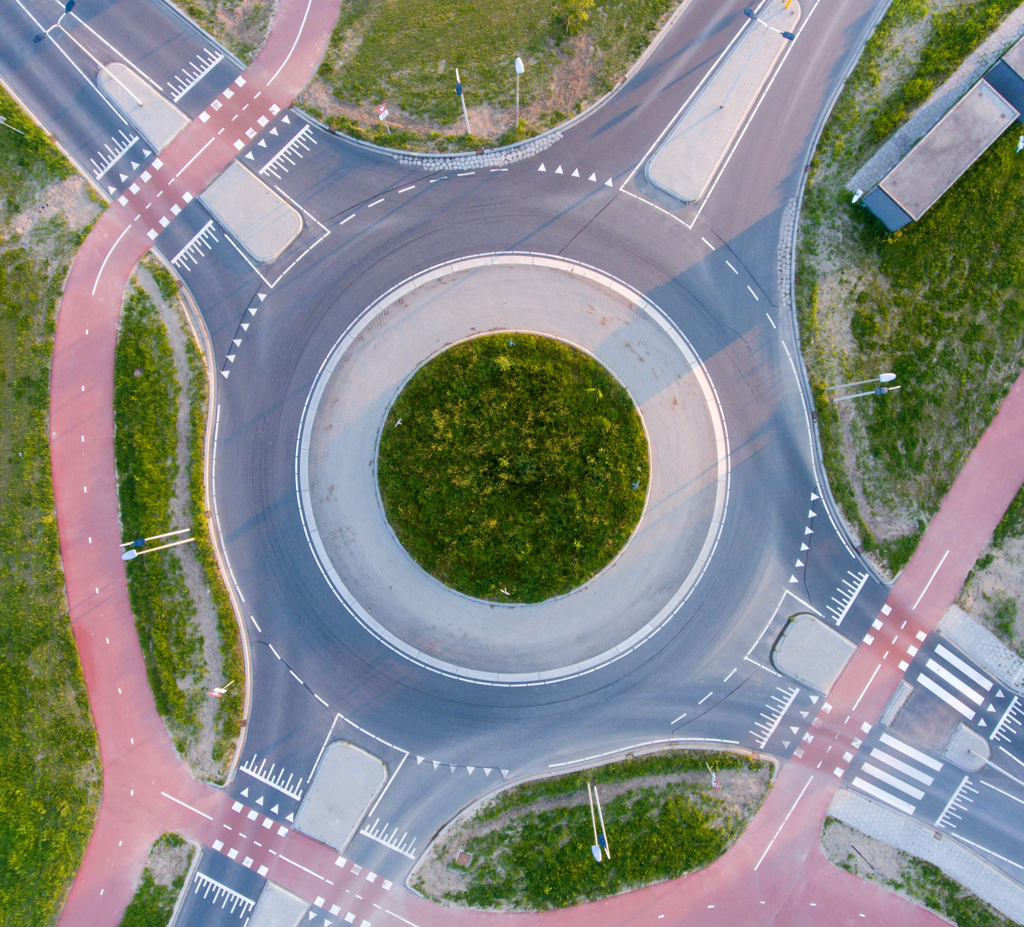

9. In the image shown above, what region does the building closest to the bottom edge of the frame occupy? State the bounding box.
[861,78,1020,231]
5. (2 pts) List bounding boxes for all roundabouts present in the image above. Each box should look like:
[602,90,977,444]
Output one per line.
[152,0,893,890]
